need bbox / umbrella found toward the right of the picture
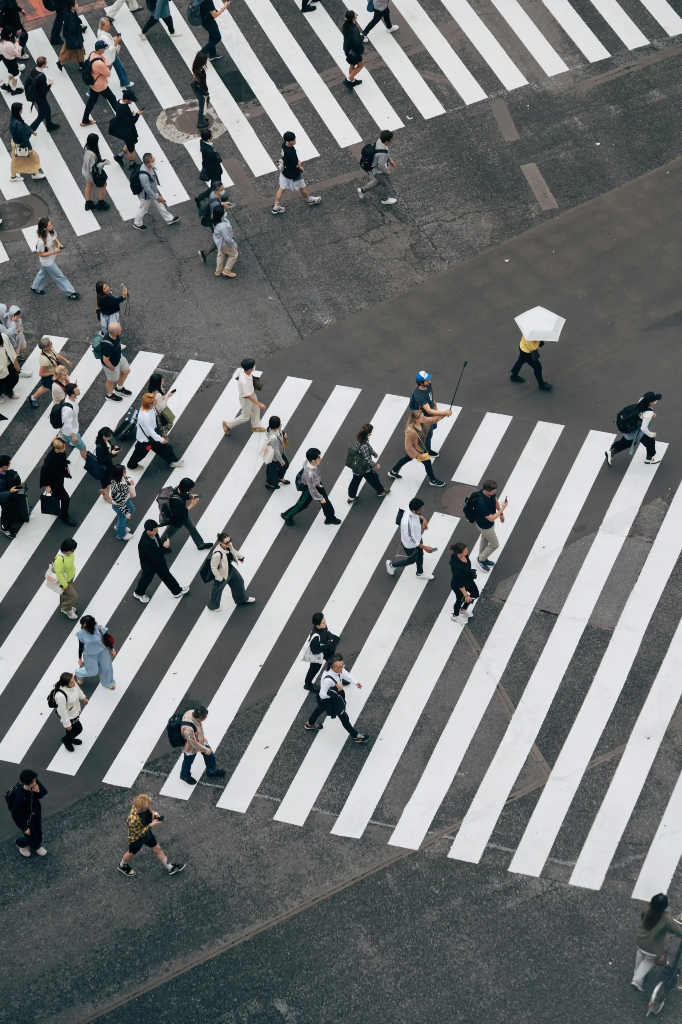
[514,306,566,342]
